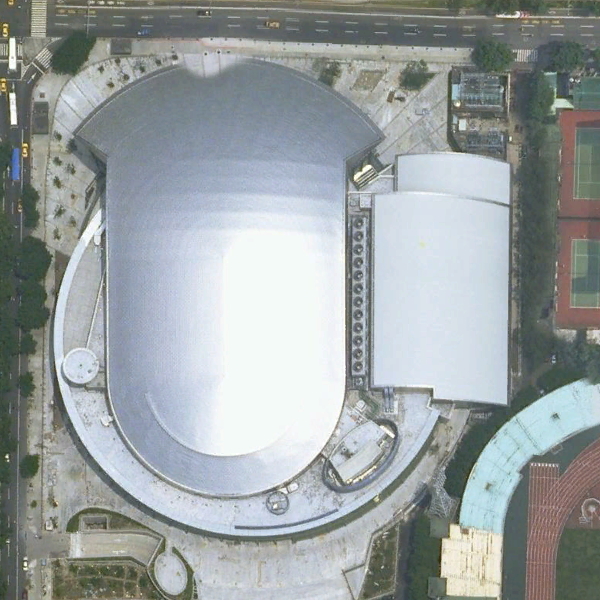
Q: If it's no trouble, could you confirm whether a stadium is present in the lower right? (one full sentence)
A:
Yes, looking in the lower right, one can make out a stadium.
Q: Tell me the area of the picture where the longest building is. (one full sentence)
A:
The longest building is located in the right region of the scene.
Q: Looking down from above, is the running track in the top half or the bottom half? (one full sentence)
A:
The running track sits in the bottom half of the picture.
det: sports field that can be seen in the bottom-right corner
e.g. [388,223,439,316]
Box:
[558,478,600,600]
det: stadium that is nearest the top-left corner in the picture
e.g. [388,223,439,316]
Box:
[49,54,443,545]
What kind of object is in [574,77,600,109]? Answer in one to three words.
tennis court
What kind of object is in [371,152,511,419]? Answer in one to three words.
building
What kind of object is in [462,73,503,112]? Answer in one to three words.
house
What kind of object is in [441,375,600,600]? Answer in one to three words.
stadium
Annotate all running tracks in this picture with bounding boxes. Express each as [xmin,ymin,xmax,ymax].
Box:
[526,439,600,600]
